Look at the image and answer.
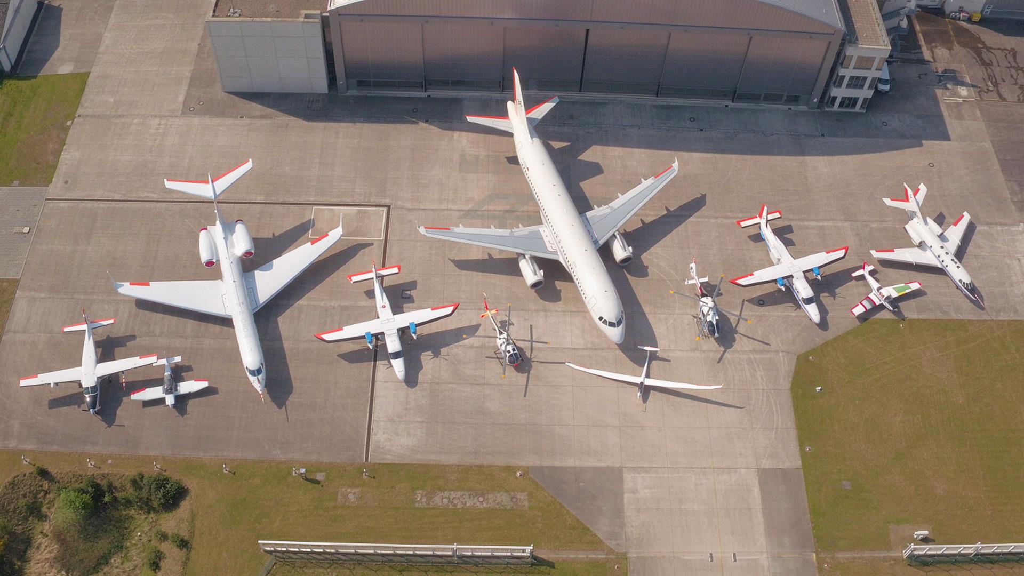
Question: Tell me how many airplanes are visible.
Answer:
9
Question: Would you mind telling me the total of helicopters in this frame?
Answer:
two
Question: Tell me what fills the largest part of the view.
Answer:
paved ground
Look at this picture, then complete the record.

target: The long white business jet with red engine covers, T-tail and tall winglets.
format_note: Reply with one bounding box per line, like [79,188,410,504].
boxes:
[105,162,340,403]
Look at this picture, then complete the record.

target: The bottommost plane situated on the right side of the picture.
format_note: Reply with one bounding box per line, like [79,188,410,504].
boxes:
[566,345,721,402]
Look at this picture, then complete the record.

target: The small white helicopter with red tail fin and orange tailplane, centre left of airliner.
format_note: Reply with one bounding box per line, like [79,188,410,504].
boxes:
[466,295,551,377]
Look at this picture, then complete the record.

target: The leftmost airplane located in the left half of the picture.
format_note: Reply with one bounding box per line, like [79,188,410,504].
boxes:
[18,306,158,417]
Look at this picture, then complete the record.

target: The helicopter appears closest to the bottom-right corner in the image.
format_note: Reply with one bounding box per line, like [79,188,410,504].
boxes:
[670,256,751,339]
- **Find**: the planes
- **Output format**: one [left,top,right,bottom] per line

[866,183,983,311]
[422,66,680,345]
[725,199,850,324]
[105,162,340,403]
[850,262,922,315]
[130,355,208,408]
[566,345,721,402]
[18,306,158,417]
[314,257,459,382]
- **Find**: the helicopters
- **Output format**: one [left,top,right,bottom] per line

[466,295,551,377]
[670,256,751,339]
